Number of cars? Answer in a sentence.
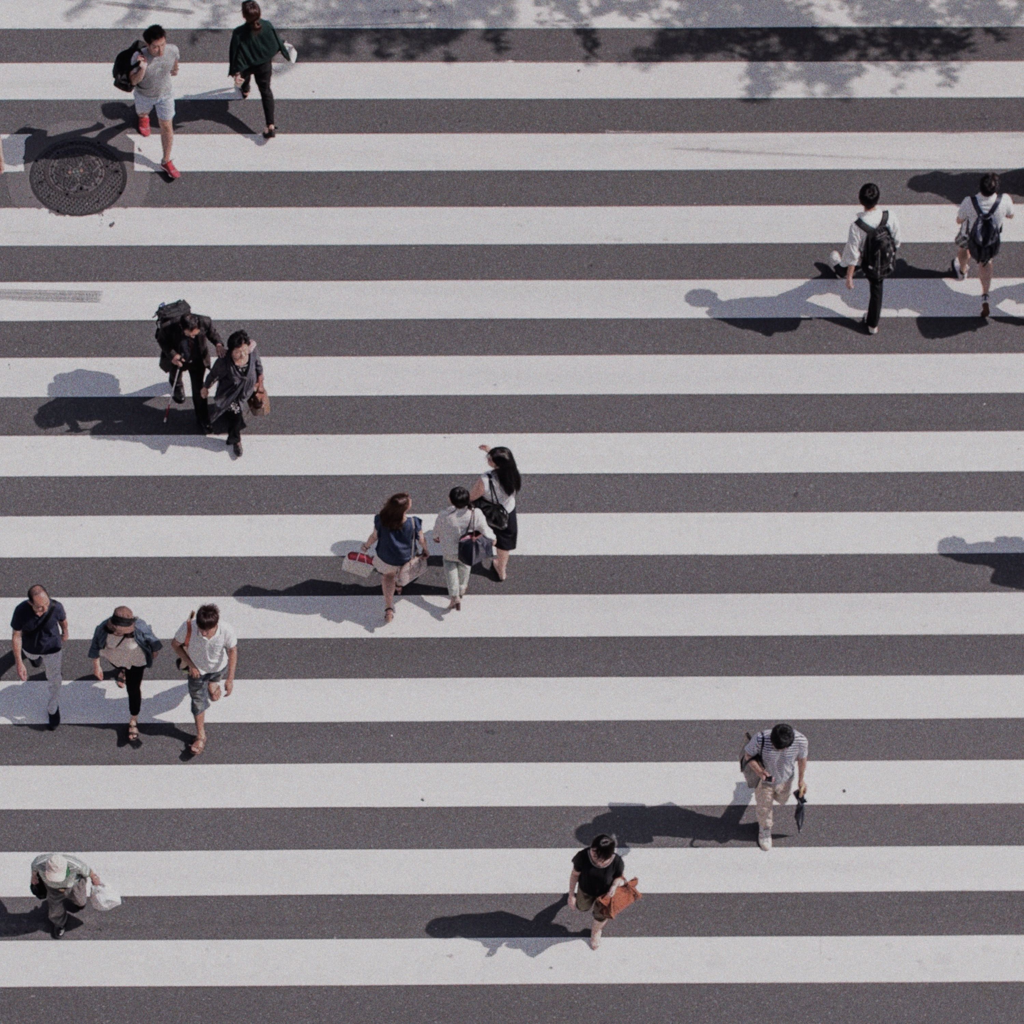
The photo contains no cars.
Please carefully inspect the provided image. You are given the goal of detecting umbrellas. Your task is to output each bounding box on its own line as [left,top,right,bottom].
[792,790,811,832]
